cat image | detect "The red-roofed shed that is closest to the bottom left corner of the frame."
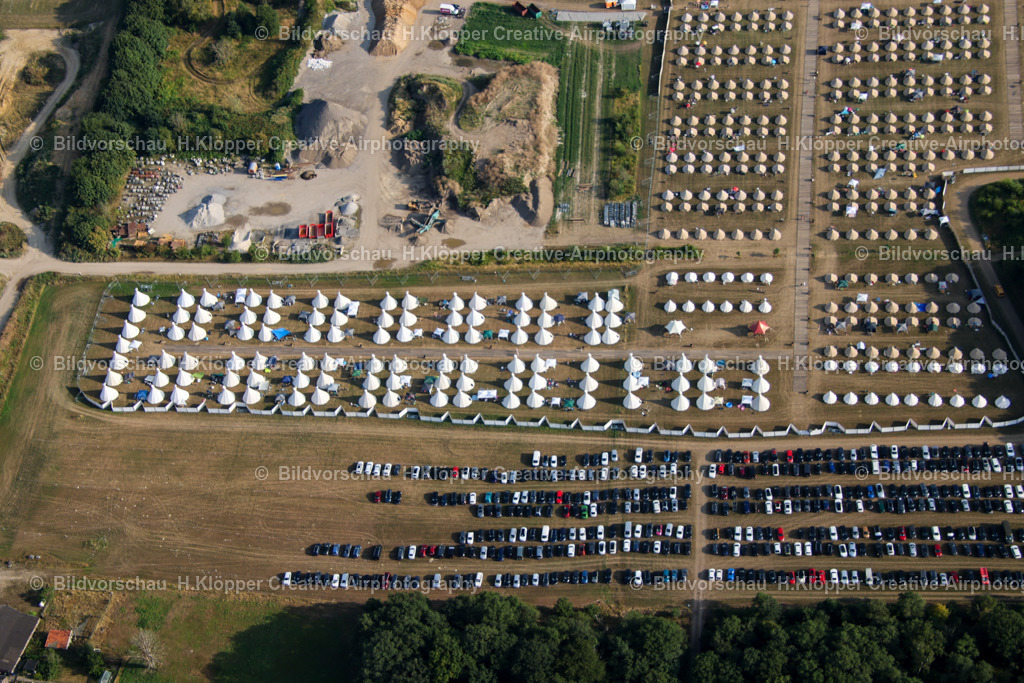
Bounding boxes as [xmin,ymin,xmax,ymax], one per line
[44,630,72,653]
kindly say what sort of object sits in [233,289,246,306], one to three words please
gazebo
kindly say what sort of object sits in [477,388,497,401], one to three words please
gazebo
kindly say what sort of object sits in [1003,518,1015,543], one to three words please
vehicle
